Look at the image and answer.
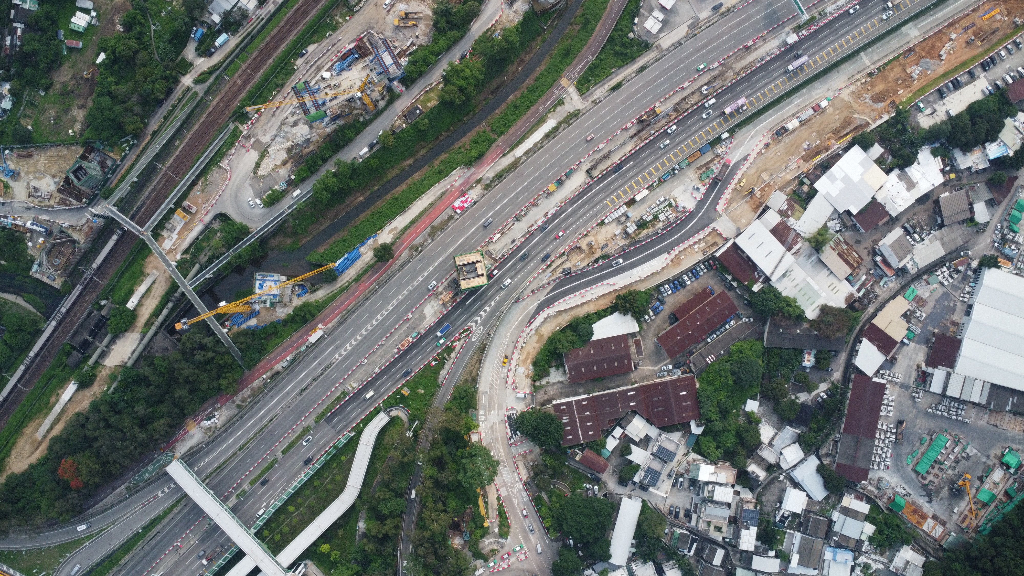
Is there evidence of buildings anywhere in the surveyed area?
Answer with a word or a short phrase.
Yes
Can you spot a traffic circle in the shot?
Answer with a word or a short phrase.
No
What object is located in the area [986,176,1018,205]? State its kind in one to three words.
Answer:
shed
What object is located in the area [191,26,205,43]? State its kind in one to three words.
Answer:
vehicle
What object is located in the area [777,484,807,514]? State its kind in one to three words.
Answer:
house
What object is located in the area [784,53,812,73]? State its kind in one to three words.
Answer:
vehicle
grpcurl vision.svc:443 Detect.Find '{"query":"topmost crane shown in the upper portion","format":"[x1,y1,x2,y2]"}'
[246,72,376,112]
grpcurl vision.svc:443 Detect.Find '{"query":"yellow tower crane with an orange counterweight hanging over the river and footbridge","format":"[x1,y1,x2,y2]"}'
[175,261,336,330]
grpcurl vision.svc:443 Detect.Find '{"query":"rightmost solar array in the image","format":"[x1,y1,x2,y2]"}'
[741,509,760,527]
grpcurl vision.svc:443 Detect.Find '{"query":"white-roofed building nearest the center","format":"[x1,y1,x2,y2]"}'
[589,312,639,340]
